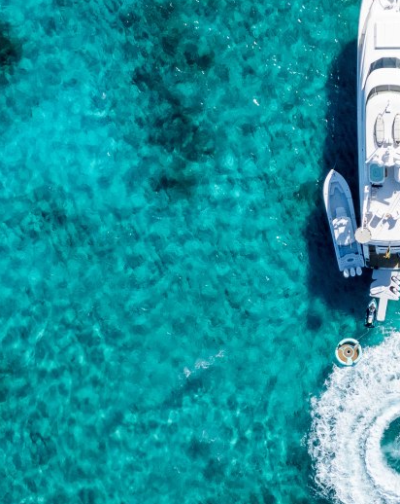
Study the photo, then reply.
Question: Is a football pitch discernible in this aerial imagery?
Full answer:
No, no football pitch is visible in the view.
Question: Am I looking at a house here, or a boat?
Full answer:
This aerial view contains a boat.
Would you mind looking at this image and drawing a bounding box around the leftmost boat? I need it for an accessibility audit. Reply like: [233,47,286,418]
[327,170,364,279]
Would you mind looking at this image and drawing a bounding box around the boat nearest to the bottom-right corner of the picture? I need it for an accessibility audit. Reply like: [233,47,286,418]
[365,301,377,326]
